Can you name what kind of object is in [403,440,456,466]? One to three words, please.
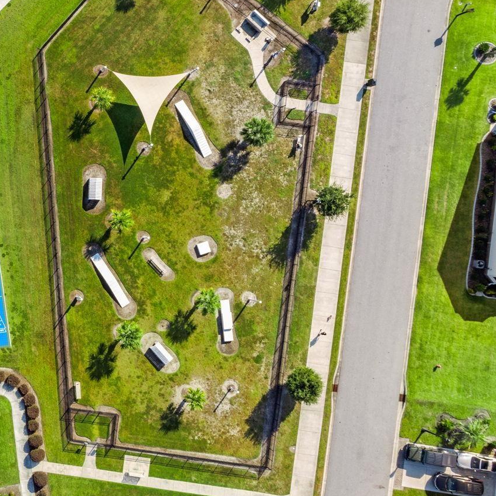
truck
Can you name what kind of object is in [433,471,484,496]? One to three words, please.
car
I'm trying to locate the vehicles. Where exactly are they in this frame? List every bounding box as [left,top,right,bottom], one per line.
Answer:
[454,449,496,473]
[403,440,456,466]
[433,471,484,496]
